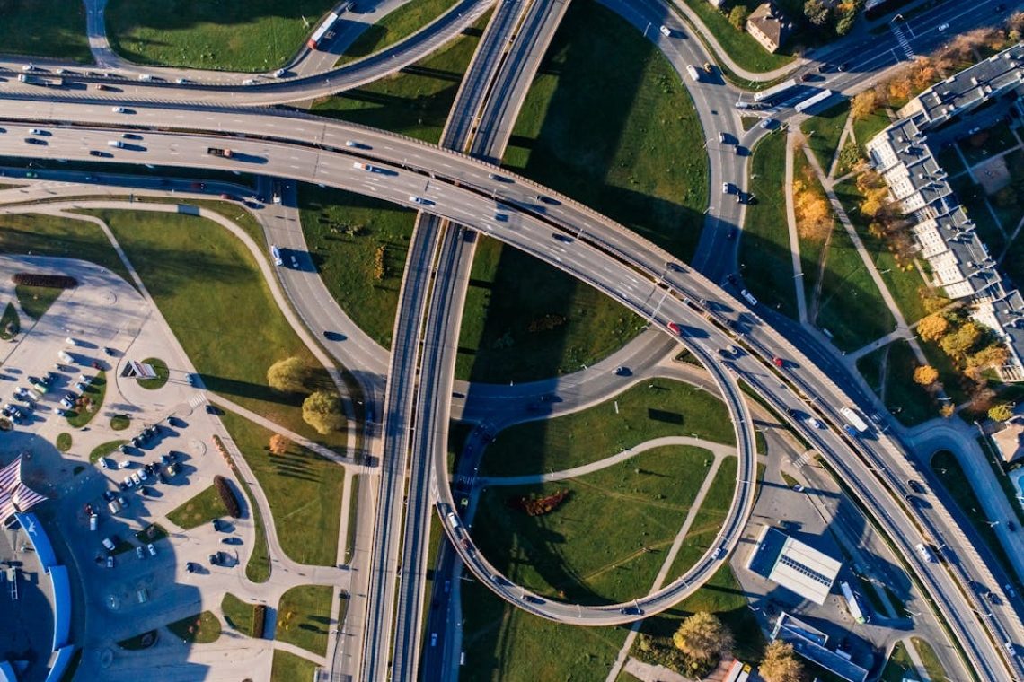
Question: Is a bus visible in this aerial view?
Yes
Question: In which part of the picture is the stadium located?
bottom left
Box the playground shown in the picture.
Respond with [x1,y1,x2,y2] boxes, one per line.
[973,156,1011,195]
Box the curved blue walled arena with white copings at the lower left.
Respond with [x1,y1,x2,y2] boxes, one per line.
[0,488,78,682]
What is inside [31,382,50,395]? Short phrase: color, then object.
white vehicle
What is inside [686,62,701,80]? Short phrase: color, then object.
white vehicle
